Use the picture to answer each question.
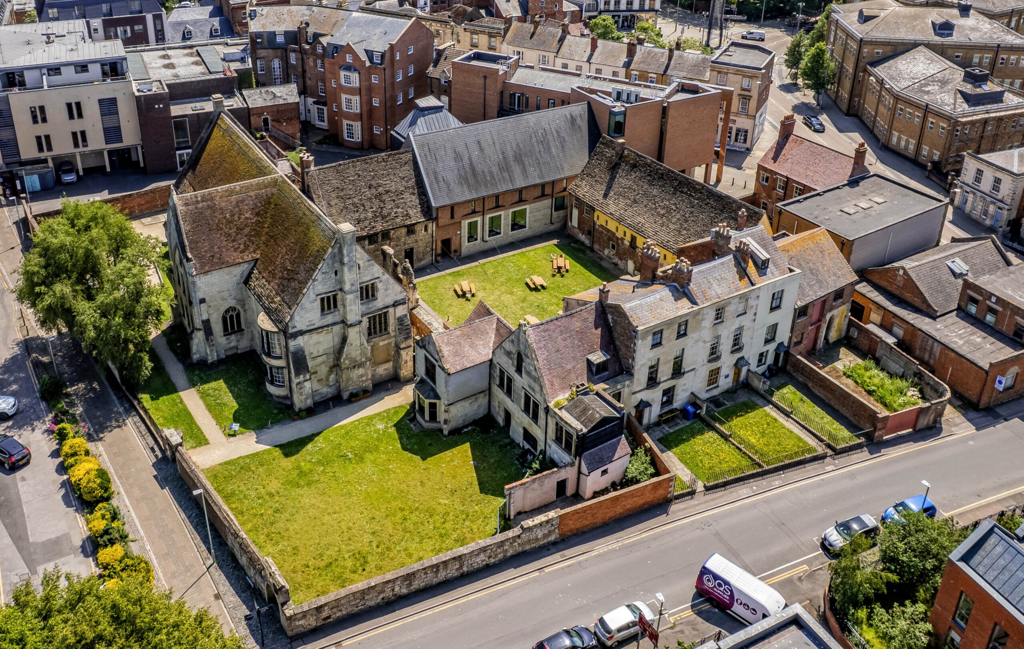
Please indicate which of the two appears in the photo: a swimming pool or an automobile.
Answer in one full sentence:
This aerial view contains an automobile.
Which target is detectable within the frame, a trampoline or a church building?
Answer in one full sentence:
Of the two, only a church building appears.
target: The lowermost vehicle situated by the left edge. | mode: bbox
[0,432,30,468]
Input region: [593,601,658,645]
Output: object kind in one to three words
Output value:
car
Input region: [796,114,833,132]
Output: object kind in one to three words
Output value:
car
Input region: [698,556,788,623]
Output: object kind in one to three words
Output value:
van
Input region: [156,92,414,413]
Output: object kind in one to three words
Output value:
church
